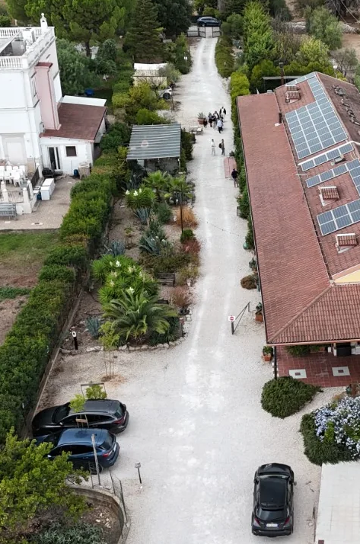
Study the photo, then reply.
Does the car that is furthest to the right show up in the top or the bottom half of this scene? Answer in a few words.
bottom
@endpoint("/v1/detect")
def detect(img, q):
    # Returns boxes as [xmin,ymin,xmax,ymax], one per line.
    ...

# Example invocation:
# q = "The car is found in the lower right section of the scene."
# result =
[247,467,296,538]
